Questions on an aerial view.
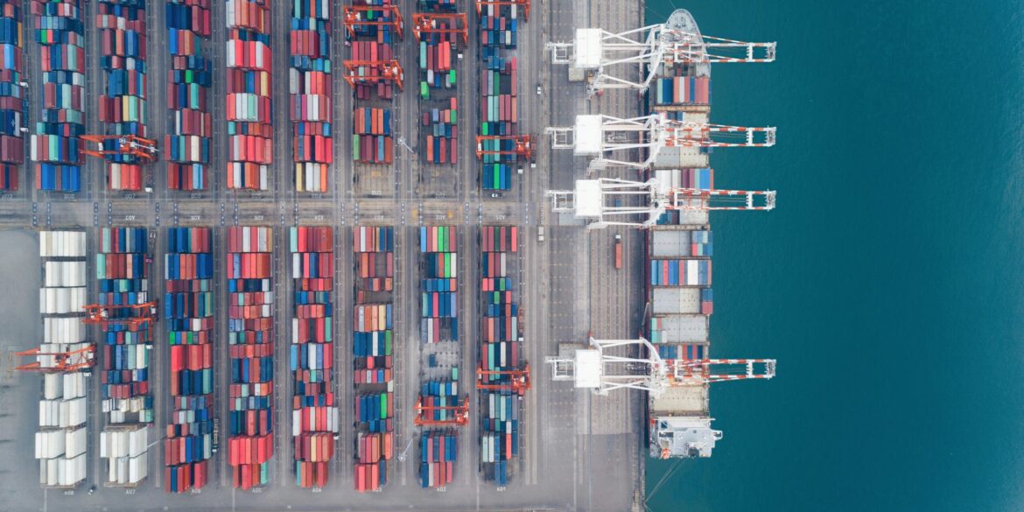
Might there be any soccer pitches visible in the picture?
No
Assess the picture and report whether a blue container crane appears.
No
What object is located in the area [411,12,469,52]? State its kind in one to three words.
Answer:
container crane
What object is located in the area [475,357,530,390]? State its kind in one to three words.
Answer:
container crane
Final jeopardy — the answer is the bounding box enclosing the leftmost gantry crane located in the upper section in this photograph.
[80,132,158,165]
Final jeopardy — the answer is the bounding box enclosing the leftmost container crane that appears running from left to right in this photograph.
[14,340,97,372]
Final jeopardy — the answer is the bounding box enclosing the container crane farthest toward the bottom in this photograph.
[411,391,469,425]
